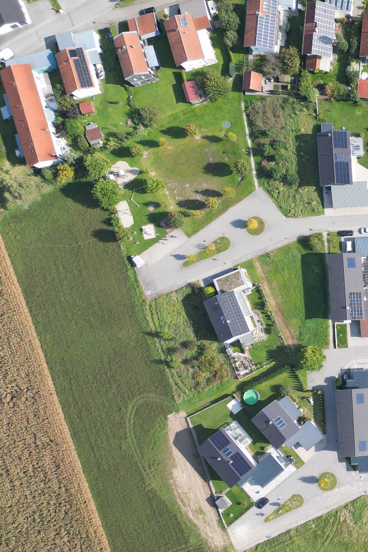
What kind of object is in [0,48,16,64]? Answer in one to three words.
vehicle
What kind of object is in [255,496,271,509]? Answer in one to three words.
vehicle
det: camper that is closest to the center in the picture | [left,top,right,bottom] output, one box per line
[133,254,147,268]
